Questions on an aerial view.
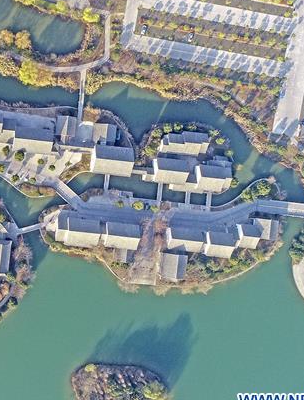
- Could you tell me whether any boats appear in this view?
No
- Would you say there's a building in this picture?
Yes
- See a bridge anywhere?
Yes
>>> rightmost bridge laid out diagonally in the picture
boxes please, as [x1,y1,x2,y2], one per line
[46,172,90,216]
